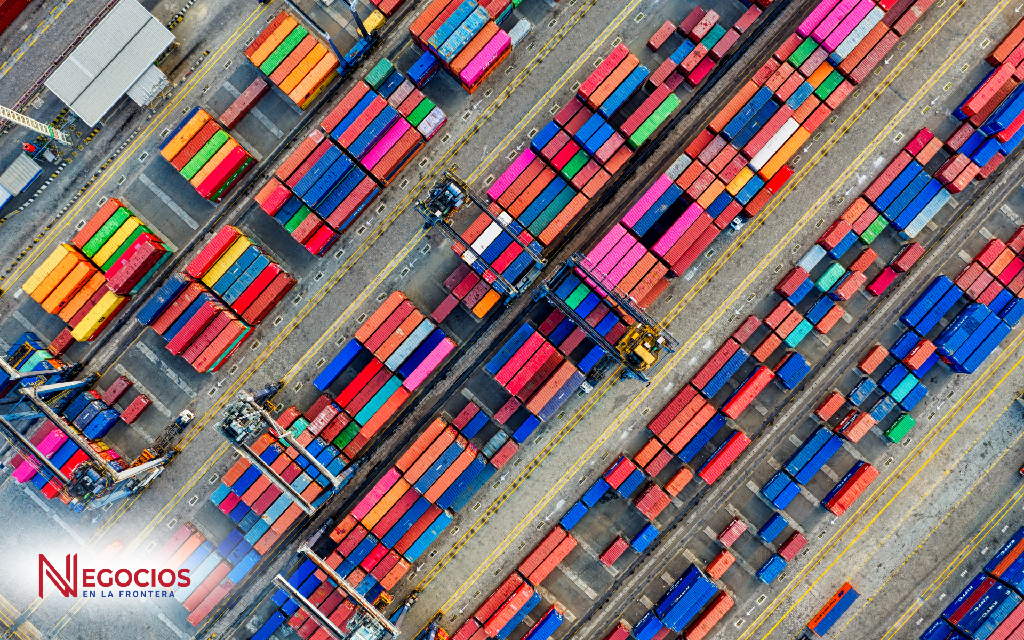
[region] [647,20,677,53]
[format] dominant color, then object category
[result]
red shipping container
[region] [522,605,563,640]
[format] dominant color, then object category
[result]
blue shipping container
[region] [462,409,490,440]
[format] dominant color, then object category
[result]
blue shipping container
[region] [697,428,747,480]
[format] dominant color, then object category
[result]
red shipping container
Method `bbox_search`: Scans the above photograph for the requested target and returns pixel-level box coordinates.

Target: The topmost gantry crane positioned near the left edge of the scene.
[0,338,93,404]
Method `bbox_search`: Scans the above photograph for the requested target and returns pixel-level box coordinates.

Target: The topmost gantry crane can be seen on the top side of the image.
[253,0,388,89]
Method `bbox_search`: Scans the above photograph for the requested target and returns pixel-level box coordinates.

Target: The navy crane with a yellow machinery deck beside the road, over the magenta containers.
[528,248,678,384]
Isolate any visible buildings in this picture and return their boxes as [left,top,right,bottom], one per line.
[0,152,50,197]
[43,149,63,164]
[43,0,184,131]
